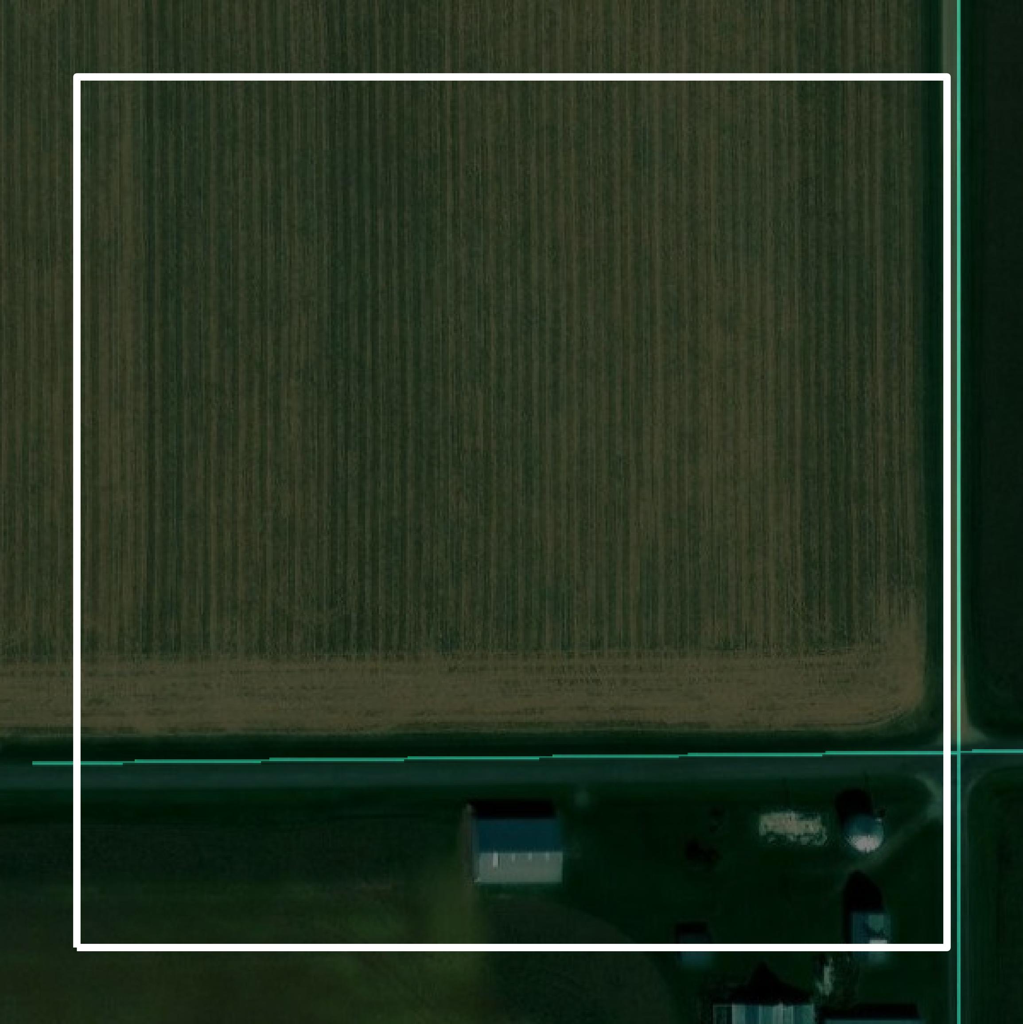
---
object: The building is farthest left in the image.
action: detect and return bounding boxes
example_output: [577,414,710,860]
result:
[472,818,563,883]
